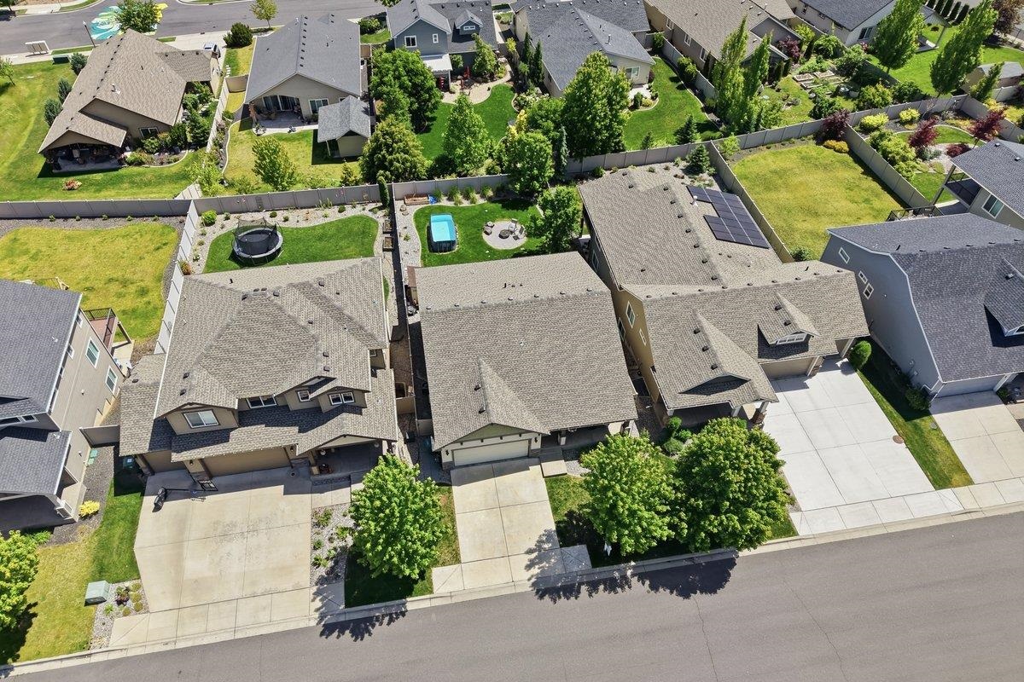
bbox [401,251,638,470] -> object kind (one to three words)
house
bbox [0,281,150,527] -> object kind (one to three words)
house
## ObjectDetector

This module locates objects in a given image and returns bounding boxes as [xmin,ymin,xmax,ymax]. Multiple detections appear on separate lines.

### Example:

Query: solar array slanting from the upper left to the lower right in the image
[687,185,768,248]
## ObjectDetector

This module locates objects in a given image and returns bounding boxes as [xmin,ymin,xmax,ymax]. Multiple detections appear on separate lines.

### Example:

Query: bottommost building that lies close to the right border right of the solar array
[825,204,1024,404]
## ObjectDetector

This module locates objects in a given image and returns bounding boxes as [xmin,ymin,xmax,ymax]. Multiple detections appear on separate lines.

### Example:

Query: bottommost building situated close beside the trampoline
[120,255,401,484]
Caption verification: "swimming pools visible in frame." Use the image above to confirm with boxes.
[428,213,461,253]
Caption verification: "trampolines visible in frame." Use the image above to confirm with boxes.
[228,212,286,268]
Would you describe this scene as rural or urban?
urban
